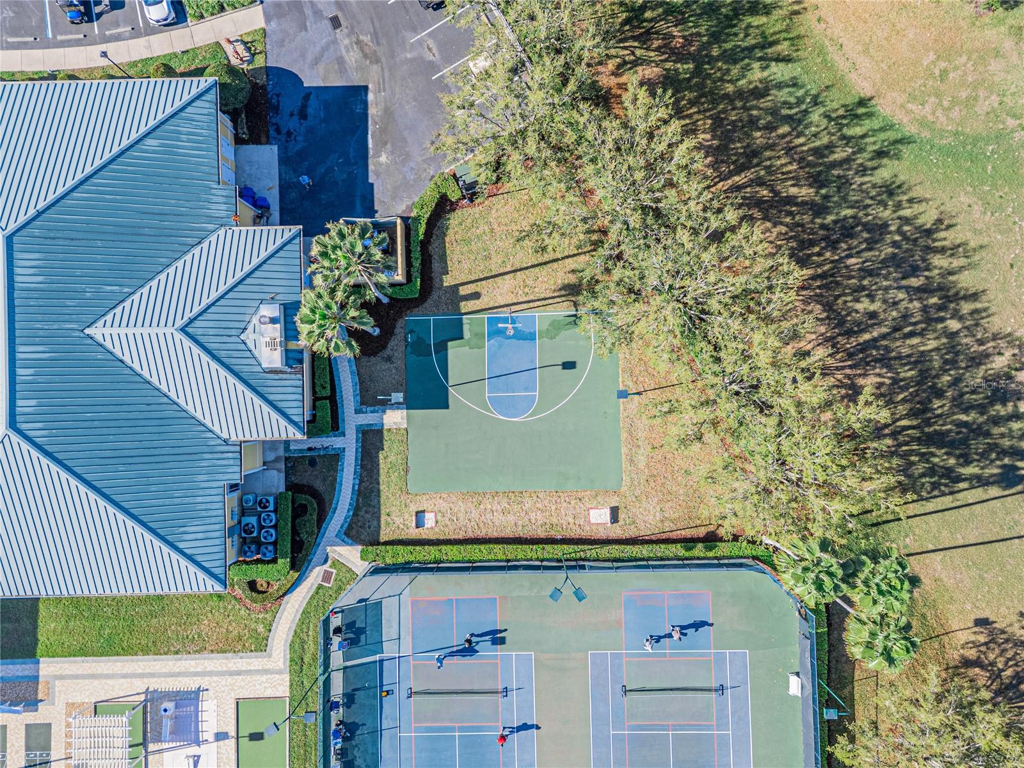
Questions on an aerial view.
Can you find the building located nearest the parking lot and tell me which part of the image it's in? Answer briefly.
left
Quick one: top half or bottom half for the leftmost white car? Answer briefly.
top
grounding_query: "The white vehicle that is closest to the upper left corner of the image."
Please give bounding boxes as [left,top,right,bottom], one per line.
[139,0,176,25]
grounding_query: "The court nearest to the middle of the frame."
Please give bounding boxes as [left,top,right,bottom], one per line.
[405,310,622,492]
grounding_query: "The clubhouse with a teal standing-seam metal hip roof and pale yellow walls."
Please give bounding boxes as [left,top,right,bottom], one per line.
[0,76,315,600]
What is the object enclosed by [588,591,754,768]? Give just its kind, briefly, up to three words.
tennis court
